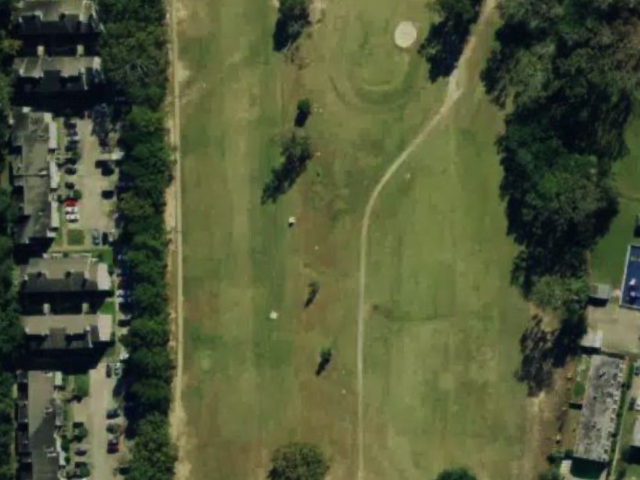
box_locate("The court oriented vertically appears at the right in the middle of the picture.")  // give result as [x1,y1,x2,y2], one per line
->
[620,245,640,310]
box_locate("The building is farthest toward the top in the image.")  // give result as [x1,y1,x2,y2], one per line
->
[13,0,100,33]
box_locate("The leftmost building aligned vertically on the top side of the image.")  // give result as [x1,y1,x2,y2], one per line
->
[12,108,59,243]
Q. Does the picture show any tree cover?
Yes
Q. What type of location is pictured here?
golf course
